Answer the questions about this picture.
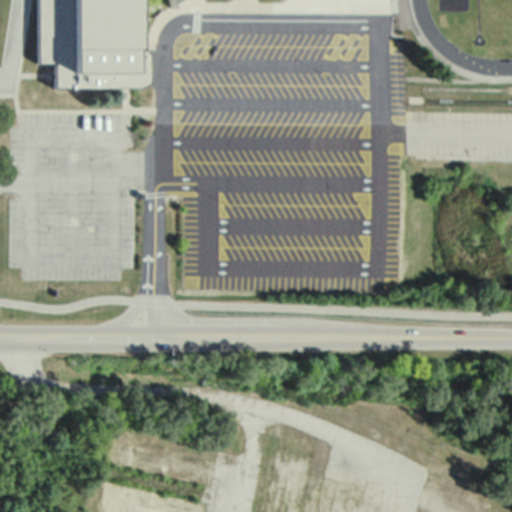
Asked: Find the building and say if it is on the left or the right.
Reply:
left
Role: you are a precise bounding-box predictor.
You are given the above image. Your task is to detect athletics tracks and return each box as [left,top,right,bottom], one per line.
[410,0,512,79]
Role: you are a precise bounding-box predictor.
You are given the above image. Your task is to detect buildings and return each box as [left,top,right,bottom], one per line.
[38,0,153,90]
